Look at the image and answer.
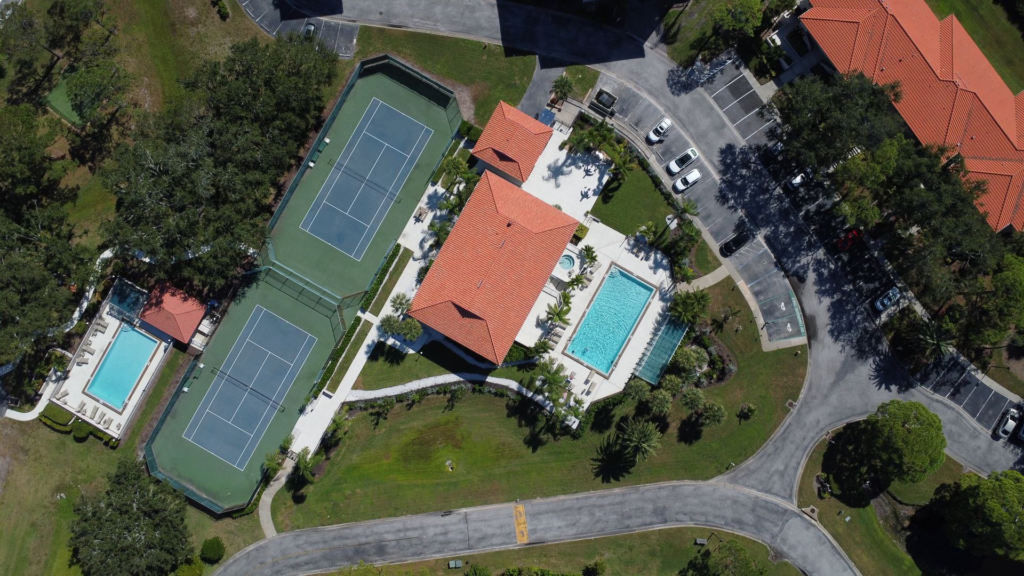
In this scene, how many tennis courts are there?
2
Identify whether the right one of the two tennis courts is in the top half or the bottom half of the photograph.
top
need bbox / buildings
[139,286,209,344]
[407,170,579,366]
[472,100,553,183]
[793,0,1024,256]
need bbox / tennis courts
[269,61,460,297]
[146,260,365,507]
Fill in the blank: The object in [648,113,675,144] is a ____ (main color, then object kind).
white car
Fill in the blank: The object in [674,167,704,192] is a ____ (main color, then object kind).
white car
